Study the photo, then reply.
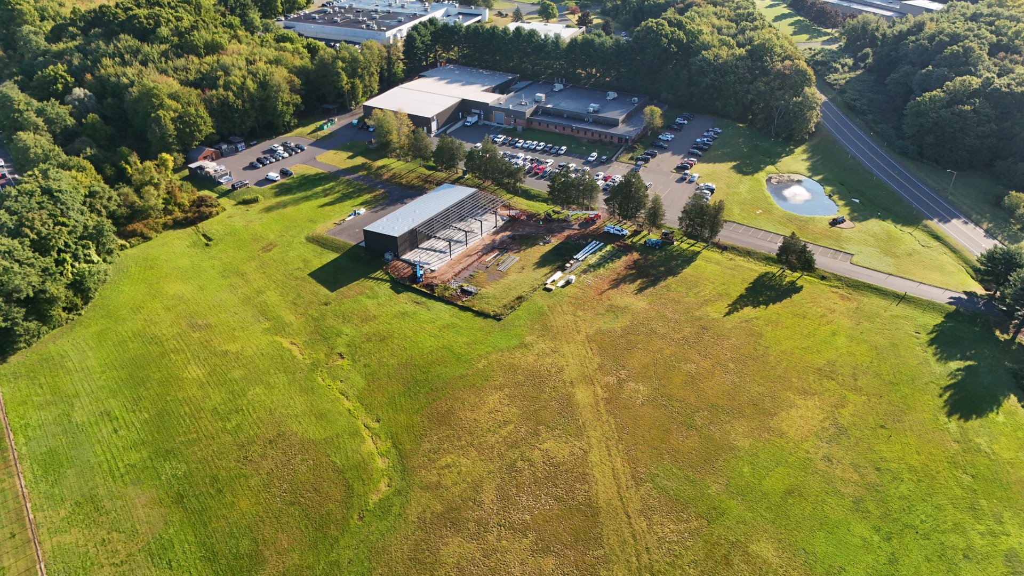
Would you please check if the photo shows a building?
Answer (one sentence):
Yes, there's a building down there.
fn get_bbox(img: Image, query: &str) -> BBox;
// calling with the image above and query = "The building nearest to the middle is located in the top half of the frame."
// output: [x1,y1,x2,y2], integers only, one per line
[361,182,510,270]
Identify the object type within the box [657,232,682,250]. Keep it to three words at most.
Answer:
work vehicle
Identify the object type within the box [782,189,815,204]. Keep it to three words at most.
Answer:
fountain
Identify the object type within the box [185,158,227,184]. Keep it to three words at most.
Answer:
shed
